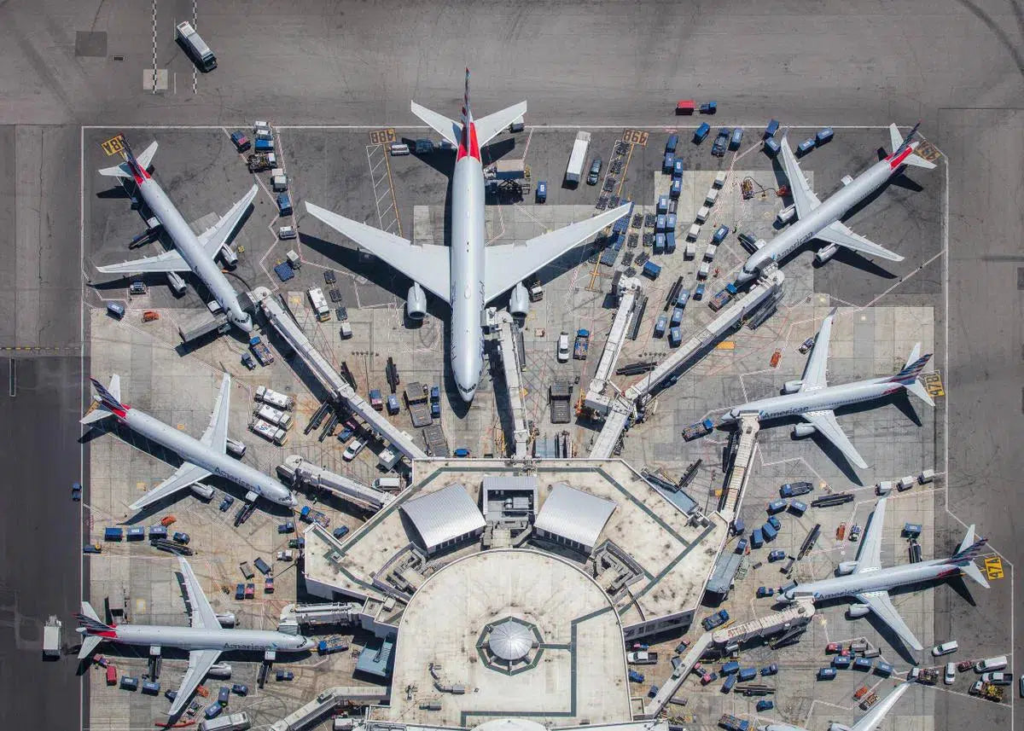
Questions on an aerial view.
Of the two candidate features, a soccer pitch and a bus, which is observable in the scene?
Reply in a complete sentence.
The one in the frame is a bus.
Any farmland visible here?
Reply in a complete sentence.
No, the scene doesn't show any farmland.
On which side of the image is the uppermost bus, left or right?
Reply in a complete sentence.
It is on the left.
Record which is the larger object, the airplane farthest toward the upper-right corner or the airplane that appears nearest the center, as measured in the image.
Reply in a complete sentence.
Compared with the airplane farthest toward the upper-right corner, the airplane that appears nearest the center is the bigger one.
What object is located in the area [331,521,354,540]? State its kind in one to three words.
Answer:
work vehicle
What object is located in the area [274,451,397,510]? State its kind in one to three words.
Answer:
jet bridge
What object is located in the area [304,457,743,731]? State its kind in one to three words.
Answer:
building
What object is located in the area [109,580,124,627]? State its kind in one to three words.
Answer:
vehicle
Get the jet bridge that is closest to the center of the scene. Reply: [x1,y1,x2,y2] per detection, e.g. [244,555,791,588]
[479,305,531,462]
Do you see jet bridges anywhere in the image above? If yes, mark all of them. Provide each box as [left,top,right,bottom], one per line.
[276,601,360,637]
[588,269,643,406]
[479,305,531,462]
[579,258,786,458]
[644,591,819,720]
[274,451,397,510]
[259,686,391,731]
[718,406,761,538]
[237,283,422,470]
